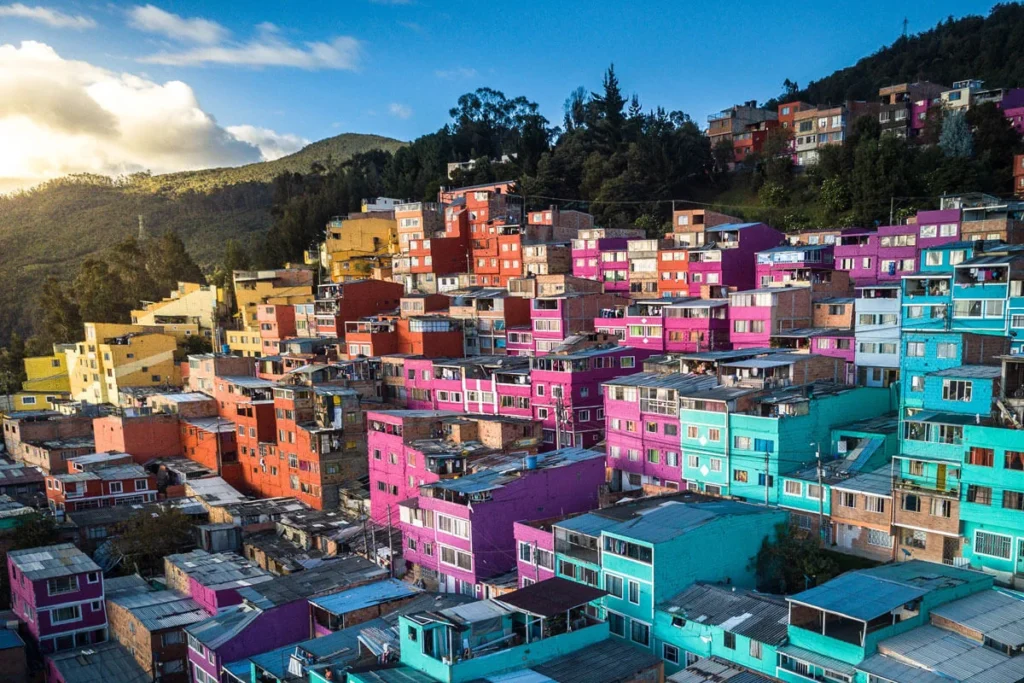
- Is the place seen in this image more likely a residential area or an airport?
residential area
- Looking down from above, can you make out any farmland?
No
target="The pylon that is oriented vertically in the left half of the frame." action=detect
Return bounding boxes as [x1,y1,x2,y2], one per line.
[135,214,148,245]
